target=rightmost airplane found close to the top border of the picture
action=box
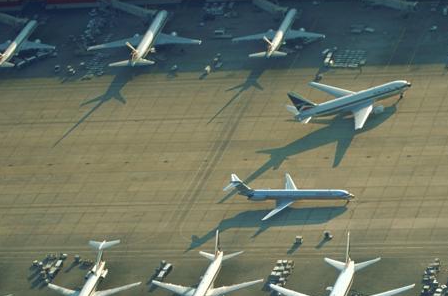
[233,8,325,56]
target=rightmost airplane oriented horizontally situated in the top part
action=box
[282,80,410,126]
